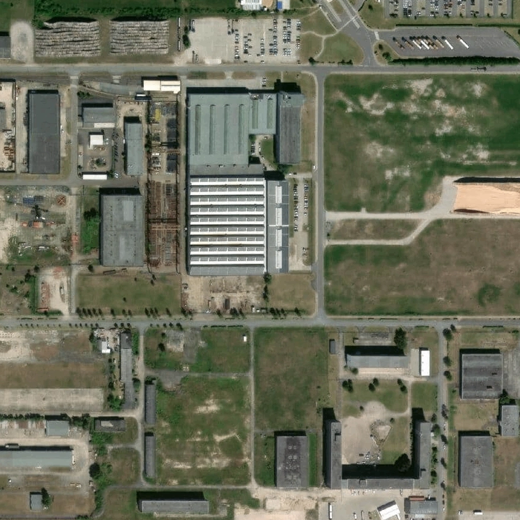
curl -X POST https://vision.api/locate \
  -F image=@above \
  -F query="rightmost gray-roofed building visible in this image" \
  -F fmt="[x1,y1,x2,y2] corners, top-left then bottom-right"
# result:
[500,406,519,436]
